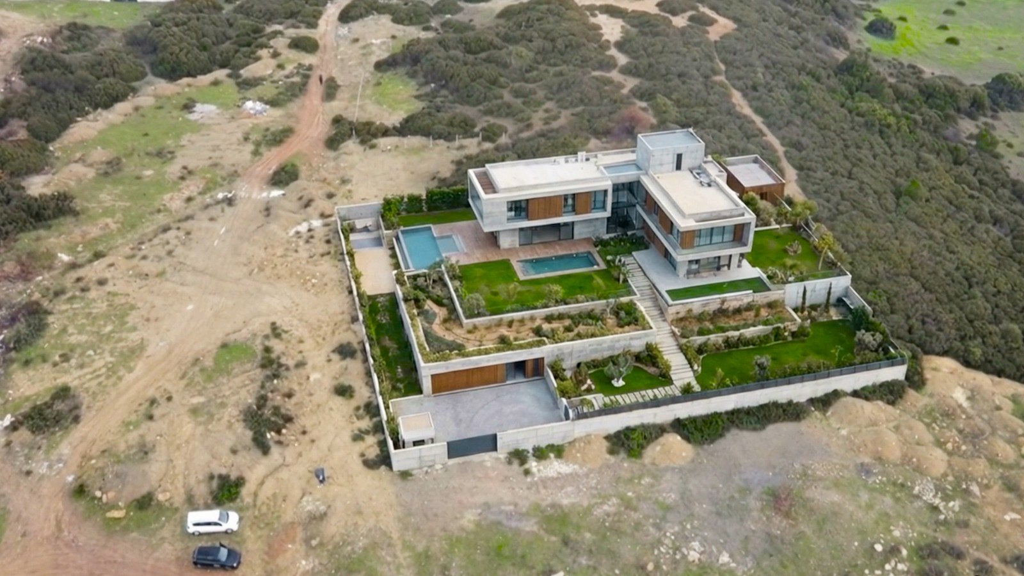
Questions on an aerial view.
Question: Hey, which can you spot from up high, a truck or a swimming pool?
swimming pool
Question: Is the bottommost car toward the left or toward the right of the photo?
left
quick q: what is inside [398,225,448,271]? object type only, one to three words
swimming pool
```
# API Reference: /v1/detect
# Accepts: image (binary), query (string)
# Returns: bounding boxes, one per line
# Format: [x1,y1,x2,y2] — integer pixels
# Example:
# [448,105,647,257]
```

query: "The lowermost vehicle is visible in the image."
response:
[189,537,246,570]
